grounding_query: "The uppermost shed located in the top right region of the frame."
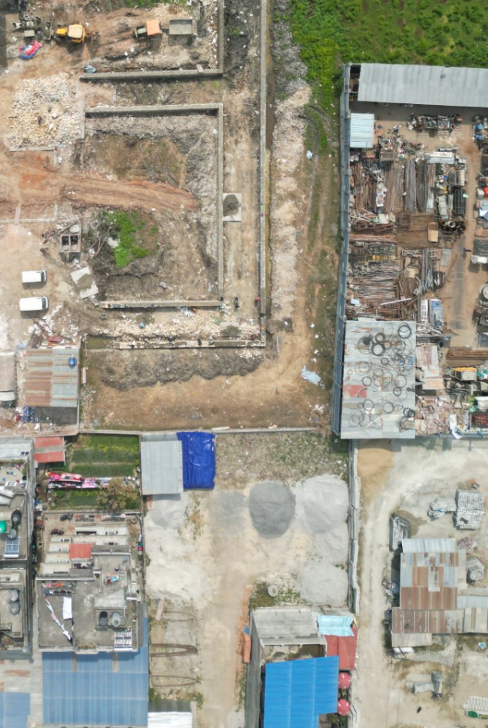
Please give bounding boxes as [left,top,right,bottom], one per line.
[349,64,488,107]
